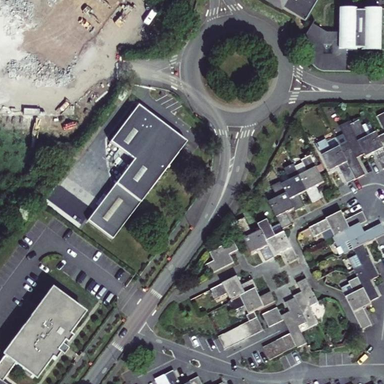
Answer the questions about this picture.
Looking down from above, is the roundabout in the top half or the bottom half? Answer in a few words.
top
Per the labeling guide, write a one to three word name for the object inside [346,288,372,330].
house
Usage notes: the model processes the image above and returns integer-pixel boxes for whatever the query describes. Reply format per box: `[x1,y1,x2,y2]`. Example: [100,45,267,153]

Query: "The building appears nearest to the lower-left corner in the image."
[0,286,88,381]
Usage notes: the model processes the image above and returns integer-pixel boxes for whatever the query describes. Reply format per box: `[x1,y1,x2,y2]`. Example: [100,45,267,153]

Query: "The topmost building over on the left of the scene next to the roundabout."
[48,104,188,242]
